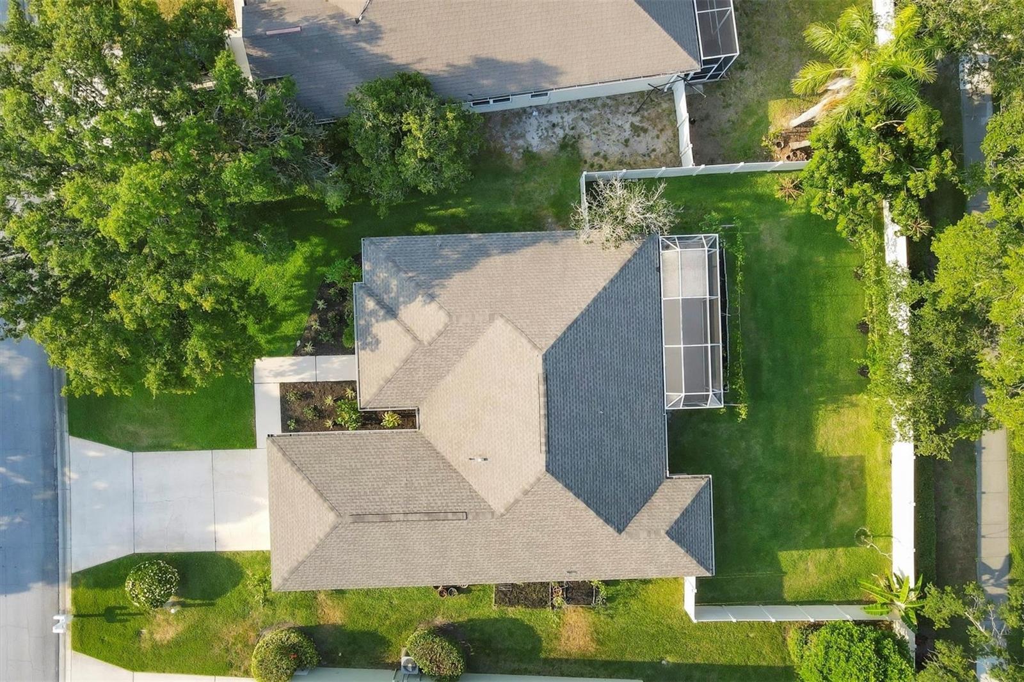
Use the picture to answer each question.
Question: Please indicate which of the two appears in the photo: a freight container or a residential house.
residential house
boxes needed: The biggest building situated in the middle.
[266,229,717,591]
